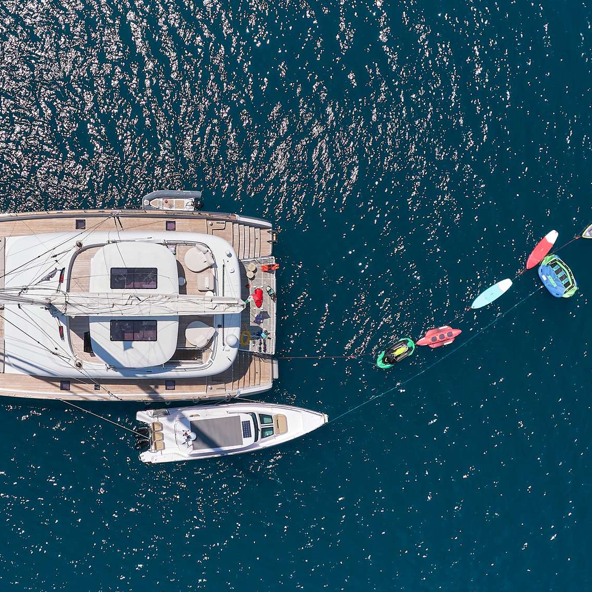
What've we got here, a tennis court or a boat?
boat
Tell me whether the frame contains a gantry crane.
No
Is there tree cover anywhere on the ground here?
No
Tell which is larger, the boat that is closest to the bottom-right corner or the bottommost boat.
the bottommost boat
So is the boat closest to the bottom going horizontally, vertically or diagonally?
horizontally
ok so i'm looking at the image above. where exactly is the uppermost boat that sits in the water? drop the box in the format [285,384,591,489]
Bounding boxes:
[142,190,203,211]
